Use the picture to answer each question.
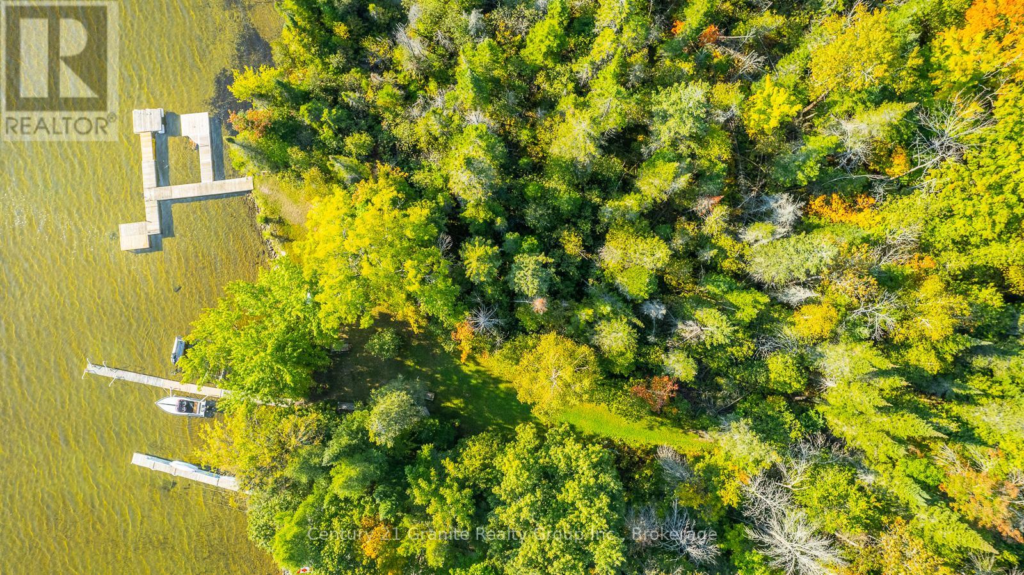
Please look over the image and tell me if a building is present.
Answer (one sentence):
No, there is no building in the image.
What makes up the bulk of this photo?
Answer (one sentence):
The scene is dominated by trees.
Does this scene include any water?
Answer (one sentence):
Yes, water can be seen from above here.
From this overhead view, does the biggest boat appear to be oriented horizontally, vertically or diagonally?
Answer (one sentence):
In this picture, the biggest boat is oriented horizontally.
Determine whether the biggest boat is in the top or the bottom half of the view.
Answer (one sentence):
Seen from above, the biggest boat lies in the bottom half of the view.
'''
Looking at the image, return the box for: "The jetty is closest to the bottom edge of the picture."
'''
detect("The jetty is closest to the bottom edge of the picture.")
[132,453,249,493]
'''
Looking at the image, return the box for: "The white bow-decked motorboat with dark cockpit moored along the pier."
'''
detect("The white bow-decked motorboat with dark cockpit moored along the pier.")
[153,398,214,418]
